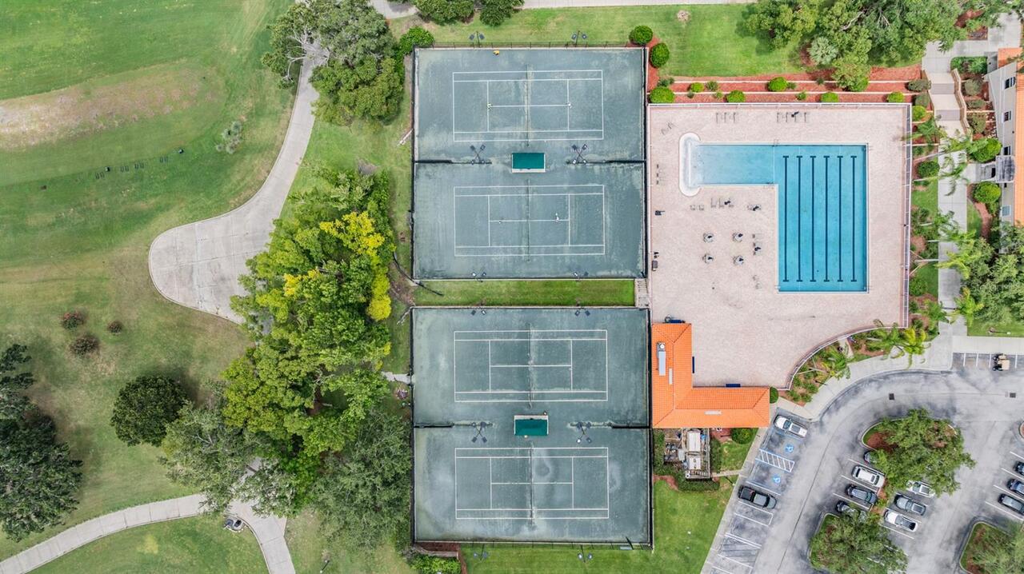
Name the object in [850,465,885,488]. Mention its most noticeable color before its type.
white car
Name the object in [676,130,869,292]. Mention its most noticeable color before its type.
blue swimming pool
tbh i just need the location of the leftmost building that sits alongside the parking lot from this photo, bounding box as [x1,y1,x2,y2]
[652,319,770,429]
